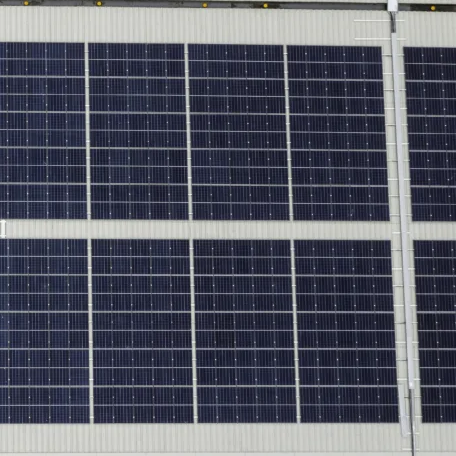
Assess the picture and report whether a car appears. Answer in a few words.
No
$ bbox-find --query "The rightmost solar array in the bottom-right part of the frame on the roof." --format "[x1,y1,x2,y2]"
[413,240,456,423]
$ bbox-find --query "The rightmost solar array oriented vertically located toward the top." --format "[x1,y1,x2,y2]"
[403,47,456,223]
